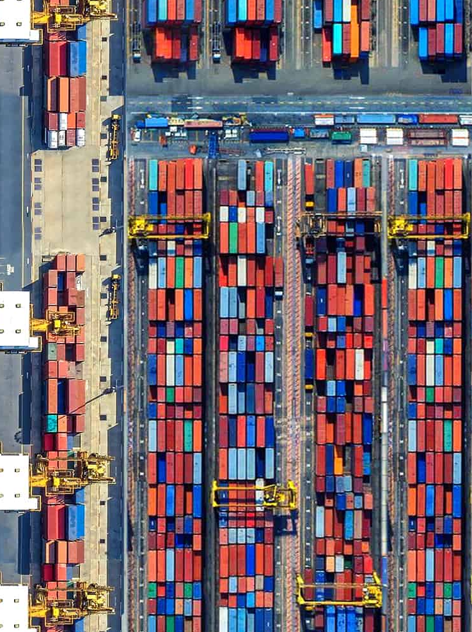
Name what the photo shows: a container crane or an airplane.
container crane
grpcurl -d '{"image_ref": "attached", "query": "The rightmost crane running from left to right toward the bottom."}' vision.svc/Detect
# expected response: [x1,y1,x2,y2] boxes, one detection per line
[289,575,385,604]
